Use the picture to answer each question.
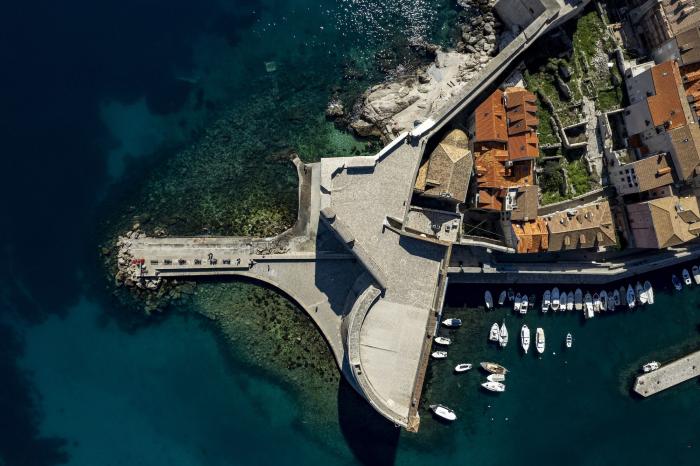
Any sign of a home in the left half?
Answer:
No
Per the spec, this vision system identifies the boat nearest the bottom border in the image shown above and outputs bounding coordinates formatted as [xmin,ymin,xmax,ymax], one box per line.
[430,405,456,420]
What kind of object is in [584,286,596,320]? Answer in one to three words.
boat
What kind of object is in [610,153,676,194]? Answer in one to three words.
house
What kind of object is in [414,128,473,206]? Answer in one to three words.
building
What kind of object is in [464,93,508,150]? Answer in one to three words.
house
